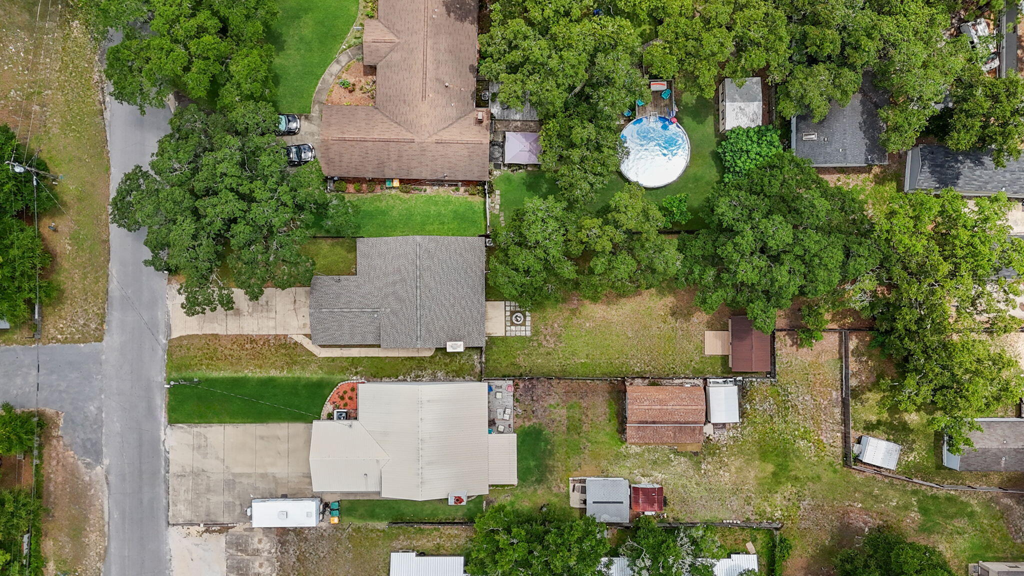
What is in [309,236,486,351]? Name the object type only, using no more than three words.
house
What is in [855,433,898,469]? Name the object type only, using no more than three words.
shed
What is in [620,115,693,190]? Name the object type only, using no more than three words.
swimming pool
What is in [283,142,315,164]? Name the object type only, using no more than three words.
car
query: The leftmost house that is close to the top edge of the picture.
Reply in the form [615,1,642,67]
[320,0,489,182]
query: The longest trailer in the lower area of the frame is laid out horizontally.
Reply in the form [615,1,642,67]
[243,490,326,527]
